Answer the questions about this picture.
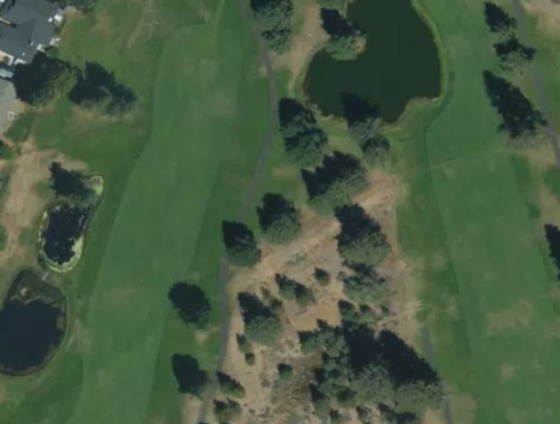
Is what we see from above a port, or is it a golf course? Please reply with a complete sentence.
This image shows a golf course.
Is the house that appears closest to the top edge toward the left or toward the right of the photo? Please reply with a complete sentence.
The house that appears closest to the top edge is on the left side of the image.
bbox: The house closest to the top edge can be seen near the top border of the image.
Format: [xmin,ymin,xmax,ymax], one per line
[0,0,57,62]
